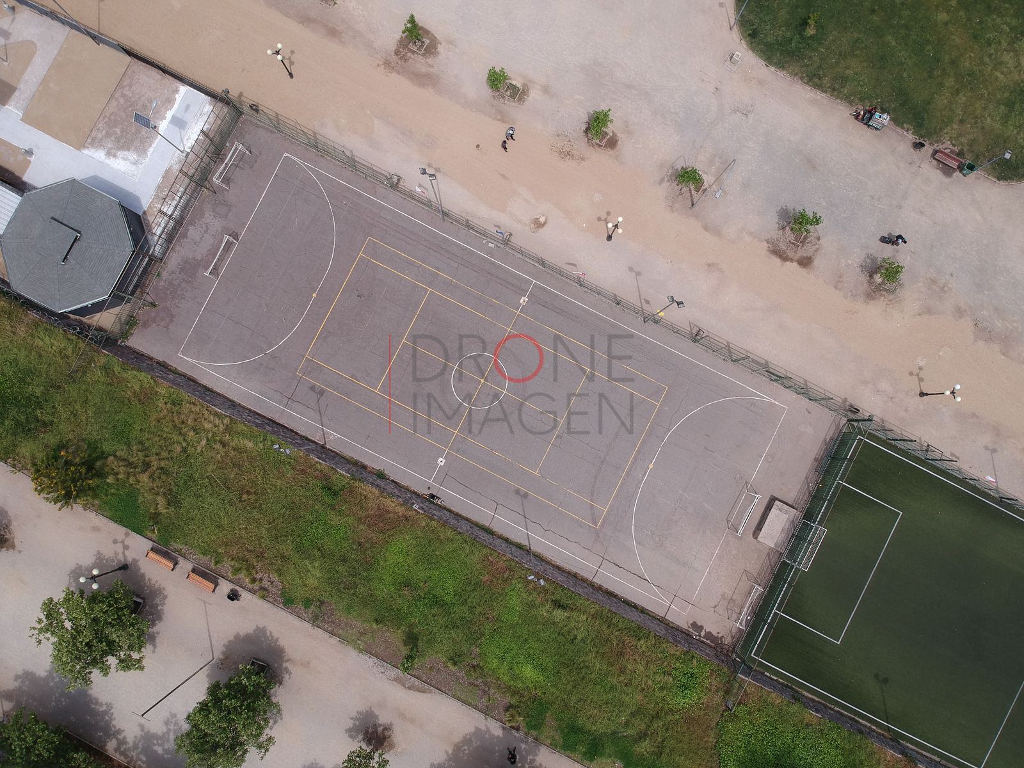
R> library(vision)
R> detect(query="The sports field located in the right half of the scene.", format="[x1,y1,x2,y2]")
[740,420,1024,764]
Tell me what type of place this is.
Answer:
sports ground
